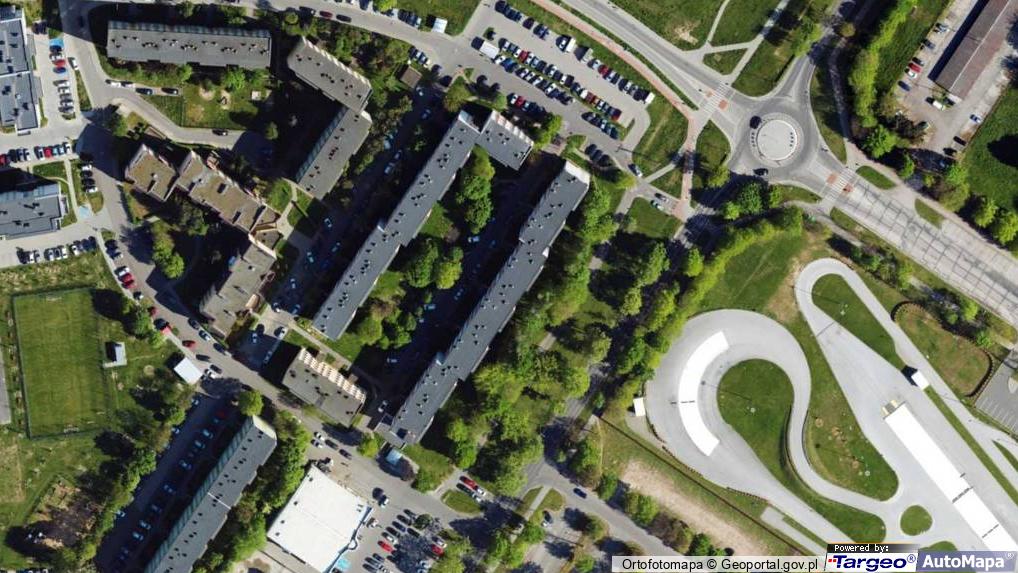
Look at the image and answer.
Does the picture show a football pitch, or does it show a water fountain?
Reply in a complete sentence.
There is a football pitch in the scene.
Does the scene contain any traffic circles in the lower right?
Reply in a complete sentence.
No, there's no traffic circle to be seen in the lower right.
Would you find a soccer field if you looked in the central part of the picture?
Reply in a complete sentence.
No, there is no soccer field in the central part of the picture.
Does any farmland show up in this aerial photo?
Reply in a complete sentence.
No, the scene doesn't show any farmland.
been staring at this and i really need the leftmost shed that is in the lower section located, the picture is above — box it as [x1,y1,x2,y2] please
[103,340,127,367]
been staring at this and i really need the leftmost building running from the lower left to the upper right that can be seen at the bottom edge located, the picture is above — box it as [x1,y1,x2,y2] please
[143,417,276,573]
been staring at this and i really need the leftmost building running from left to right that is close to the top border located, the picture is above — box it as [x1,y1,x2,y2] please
[106,20,270,70]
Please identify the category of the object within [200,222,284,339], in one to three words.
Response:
house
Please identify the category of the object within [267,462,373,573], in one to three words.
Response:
building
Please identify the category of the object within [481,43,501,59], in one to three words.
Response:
vehicle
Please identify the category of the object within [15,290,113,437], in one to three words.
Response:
soccer field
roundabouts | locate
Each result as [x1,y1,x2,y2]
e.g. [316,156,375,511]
[734,97,819,182]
